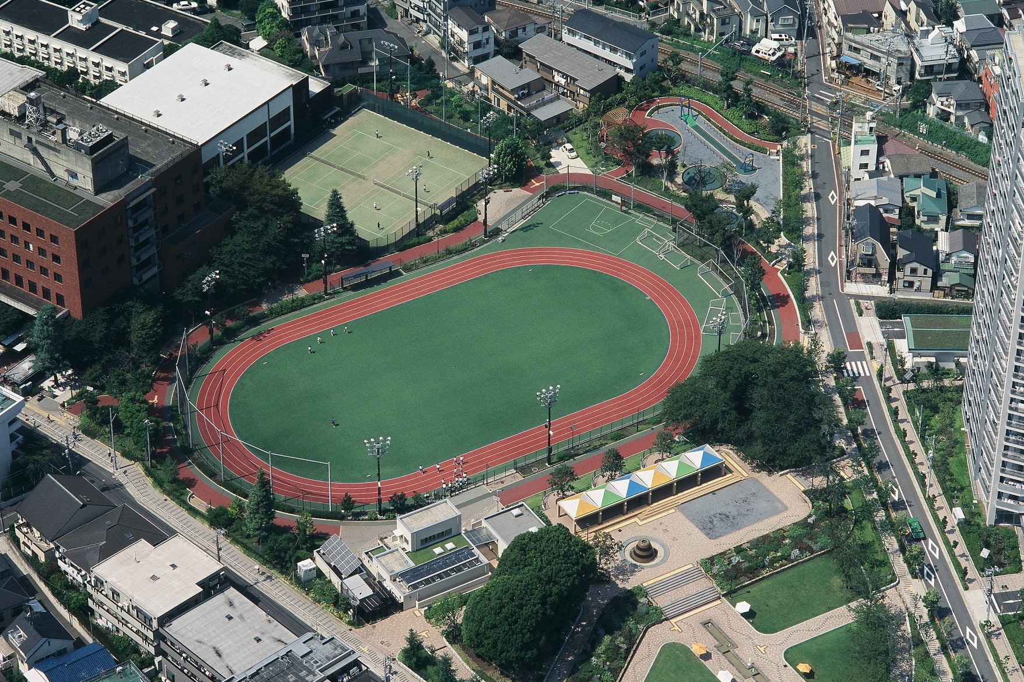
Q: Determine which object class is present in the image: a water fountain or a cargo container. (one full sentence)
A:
Of the two, only a water fountain appears.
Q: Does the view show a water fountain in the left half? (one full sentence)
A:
No, the scene shows no water fountain in the left half.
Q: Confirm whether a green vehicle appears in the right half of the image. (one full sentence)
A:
Yes, there is a green vehicle in the right half of the image.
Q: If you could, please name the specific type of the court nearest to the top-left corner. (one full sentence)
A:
What you see as the court nearest to the top-left corner is a tennis court.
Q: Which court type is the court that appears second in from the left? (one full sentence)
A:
The court that appears second in from the left is a tennis court.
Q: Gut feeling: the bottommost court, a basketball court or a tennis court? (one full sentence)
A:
What you see as the bottommost court is a basketball court.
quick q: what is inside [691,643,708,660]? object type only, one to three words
umbrella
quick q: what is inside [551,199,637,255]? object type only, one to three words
basketball court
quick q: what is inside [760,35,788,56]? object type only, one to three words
vehicle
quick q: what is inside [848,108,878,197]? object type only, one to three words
house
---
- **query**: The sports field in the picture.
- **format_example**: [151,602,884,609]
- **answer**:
[189,191,745,510]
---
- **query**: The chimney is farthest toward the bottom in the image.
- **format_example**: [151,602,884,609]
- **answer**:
[54,122,68,143]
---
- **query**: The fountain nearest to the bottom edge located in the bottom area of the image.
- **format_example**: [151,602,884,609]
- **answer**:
[623,540,666,571]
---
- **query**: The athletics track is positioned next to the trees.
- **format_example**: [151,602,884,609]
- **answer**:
[199,247,698,503]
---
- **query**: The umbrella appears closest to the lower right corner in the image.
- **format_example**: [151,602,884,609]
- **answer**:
[796,663,812,680]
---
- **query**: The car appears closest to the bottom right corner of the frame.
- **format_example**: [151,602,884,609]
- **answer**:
[906,518,927,541]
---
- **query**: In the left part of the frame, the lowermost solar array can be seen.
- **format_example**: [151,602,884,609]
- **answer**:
[321,534,361,577]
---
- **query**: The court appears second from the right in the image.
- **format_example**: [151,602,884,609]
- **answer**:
[340,156,467,238]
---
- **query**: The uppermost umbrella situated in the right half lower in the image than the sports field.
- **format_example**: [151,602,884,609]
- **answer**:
[735,602,751,619]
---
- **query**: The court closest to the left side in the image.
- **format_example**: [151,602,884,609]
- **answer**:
[272,129,401,209]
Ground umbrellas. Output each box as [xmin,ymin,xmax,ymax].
[717,671,733,682]
[691,643,708,660]
[735,602,751,619]
[796,663,812,680]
